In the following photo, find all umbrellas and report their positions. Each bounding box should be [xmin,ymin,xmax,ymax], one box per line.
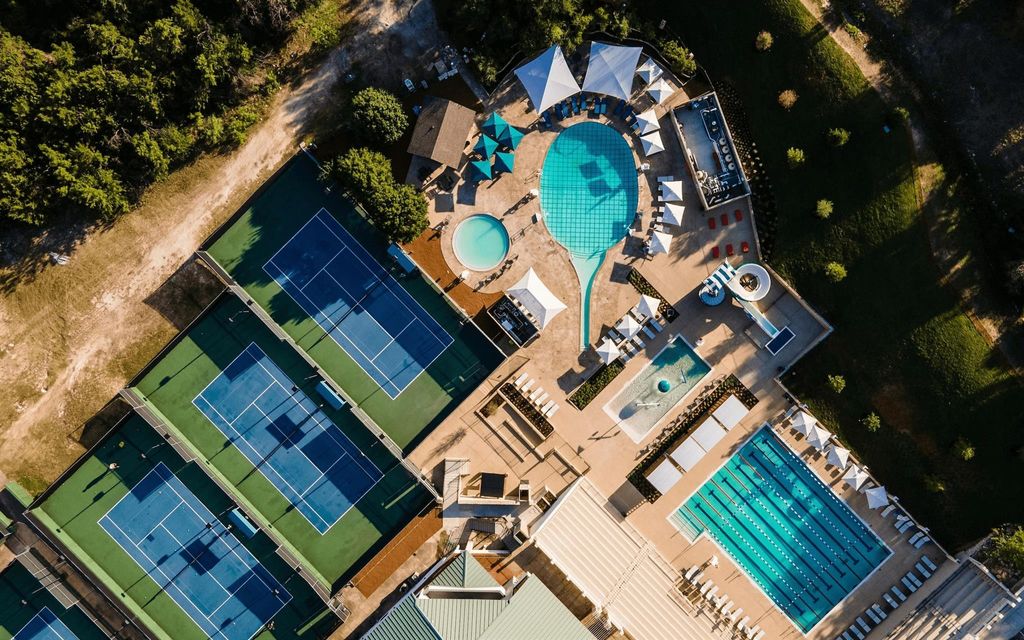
[650,231,672,254]
[641,132,664,154]
[481,112,508,139]
[493,152,515,173]
[647,78,674,104]
[791,411,817,436]
[843,464,868,490]
[826,444,850,468]
[637,59,663,85]
[616,315,642,341]
[866,487,888,508]
[663,204,684,225]
[498,124,524,150]
[595,339,621,365]
[636,109,660,133]
[471,161,490,180]
[807,425,832,450]
[663,181,682,201]
[473,134,499,160]
[636,294,660,319]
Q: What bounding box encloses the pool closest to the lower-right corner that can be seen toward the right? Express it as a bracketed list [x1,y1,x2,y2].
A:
[664,421,897,638]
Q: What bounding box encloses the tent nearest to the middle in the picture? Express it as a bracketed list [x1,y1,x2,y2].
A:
[506,266,568,330]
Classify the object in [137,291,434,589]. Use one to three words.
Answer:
tennis court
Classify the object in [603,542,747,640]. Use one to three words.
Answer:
building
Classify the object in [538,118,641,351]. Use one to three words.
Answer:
swimming pool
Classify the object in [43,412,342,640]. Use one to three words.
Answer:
tennis court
